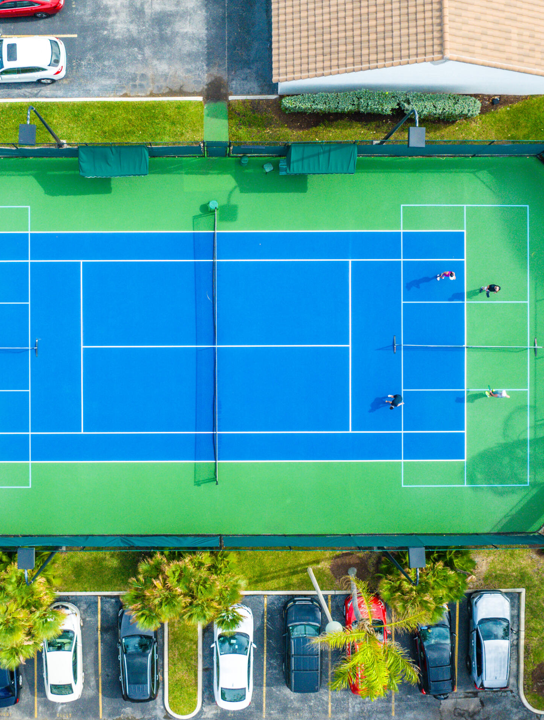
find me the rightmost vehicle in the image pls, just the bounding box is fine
[464,588,517,695]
